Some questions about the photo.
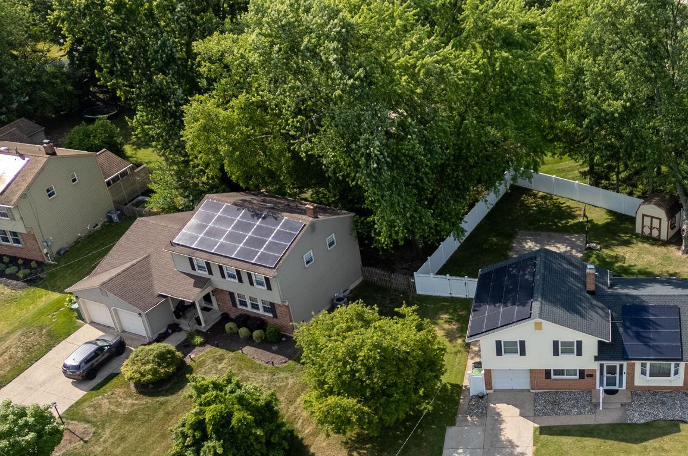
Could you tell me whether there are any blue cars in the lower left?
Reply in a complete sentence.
No, no blue car can be made out in the lower left.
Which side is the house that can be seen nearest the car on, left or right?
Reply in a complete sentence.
The house that can be seen nearest the car is on the left side of the image.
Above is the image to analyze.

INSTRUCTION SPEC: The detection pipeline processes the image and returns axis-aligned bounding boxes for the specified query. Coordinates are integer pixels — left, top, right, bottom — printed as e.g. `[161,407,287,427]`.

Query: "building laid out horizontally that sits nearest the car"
[60,196,365,342]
